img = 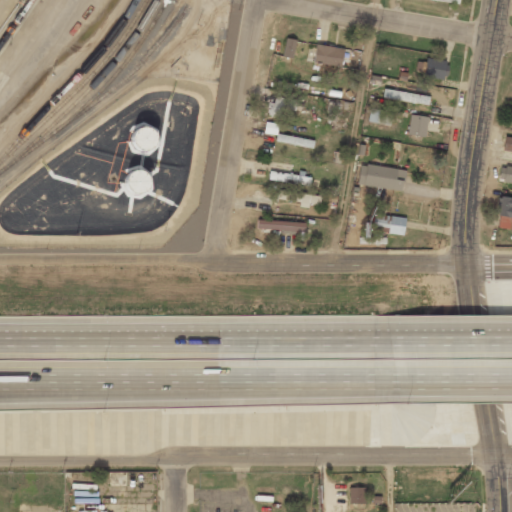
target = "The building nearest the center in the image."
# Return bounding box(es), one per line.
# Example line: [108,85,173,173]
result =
[258,220,307,232]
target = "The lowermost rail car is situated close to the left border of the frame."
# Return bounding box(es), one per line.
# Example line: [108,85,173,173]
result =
[16,104,52,141]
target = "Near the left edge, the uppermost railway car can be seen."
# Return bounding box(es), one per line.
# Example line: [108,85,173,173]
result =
[14,0,39,24]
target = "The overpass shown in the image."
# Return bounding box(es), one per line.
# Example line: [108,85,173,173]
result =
[374,316,512,406]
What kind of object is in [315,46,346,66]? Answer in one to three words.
house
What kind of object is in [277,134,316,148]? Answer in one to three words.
house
